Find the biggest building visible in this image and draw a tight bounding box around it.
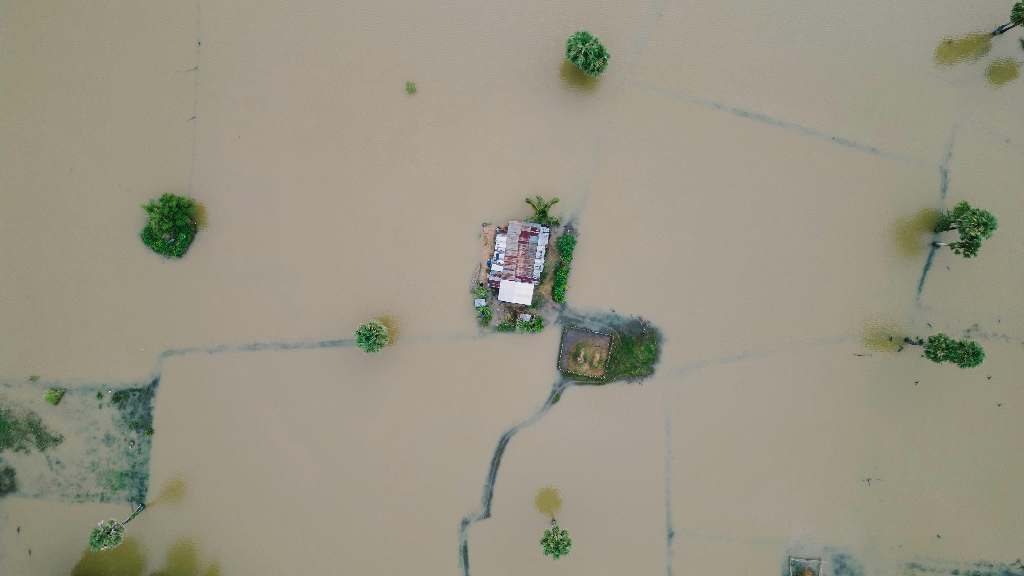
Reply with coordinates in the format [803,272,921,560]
[487,221,549,305]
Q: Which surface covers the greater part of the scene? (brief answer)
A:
water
